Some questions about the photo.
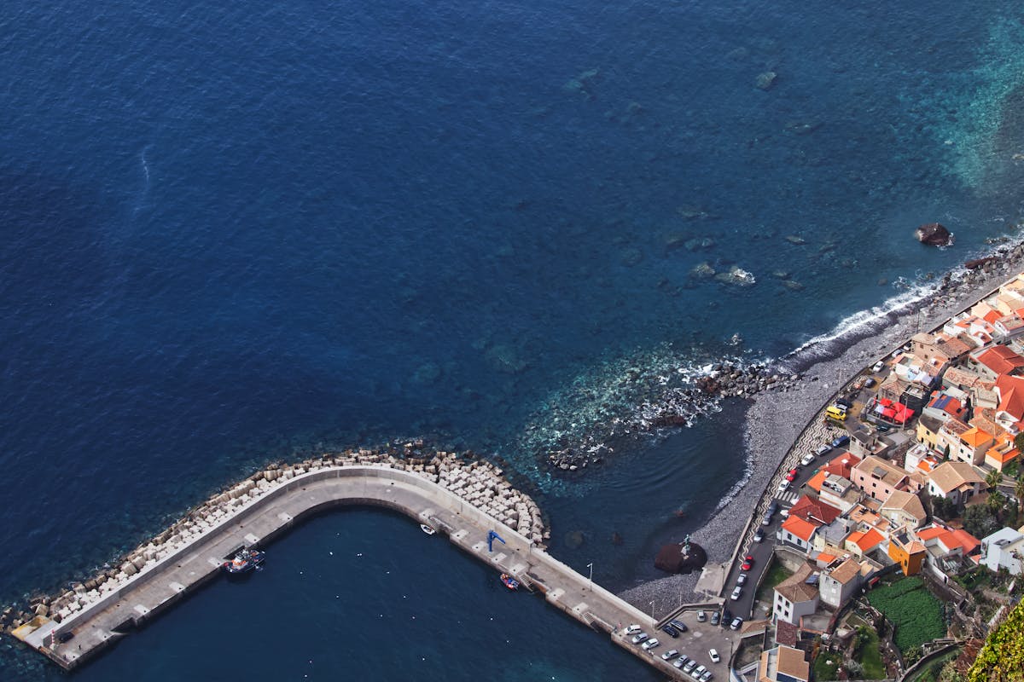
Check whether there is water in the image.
Yes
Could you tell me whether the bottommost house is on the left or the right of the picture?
right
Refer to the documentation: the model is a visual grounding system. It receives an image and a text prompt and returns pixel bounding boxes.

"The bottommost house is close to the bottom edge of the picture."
[759,642,808,682]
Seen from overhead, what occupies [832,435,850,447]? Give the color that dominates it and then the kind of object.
blue vehicle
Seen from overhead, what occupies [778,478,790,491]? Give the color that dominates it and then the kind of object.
white vehicle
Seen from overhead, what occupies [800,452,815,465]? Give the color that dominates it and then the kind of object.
white vehicle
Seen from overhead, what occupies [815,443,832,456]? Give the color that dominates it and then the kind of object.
gray vehicle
